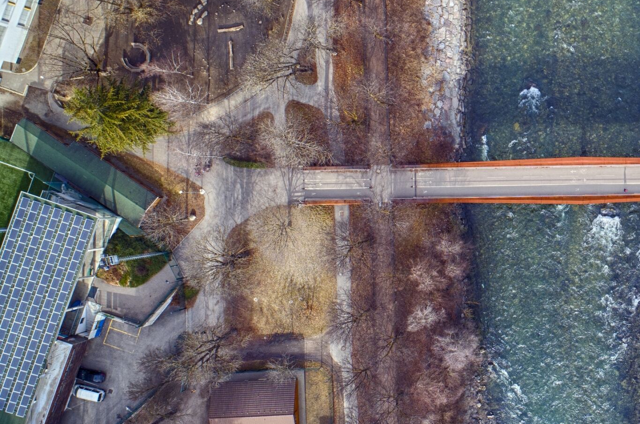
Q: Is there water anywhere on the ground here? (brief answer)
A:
Yes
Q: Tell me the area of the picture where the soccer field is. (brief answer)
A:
left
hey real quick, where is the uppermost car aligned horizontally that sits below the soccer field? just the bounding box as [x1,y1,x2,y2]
[75,367,108,383]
